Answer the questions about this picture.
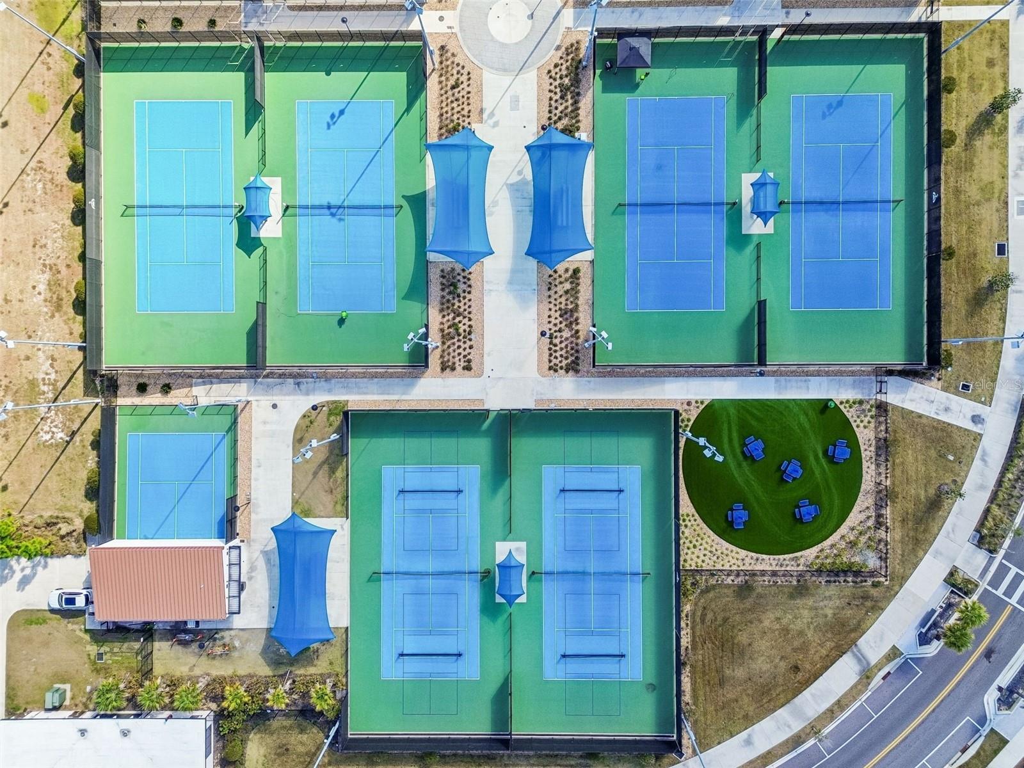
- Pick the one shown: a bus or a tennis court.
tennis court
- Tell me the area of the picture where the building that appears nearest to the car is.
bottom left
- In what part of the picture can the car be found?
bottom left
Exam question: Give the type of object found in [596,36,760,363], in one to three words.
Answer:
tennis court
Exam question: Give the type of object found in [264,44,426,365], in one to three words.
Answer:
tennis court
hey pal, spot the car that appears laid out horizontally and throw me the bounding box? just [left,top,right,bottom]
[48,589,93,611]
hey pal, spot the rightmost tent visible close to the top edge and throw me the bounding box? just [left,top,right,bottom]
[615,35,651,77]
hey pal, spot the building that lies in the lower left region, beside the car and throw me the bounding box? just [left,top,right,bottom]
[89,539,241,621]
